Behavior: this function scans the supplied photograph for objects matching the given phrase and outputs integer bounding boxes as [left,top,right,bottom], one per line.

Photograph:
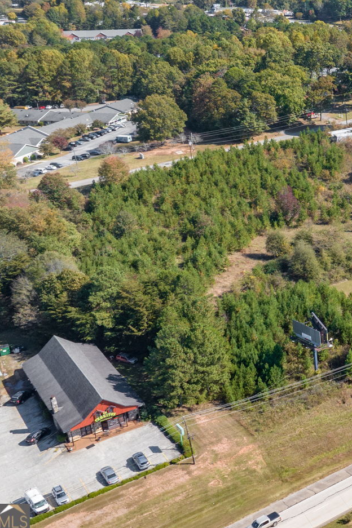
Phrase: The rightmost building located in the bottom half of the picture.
[19,335,157,460]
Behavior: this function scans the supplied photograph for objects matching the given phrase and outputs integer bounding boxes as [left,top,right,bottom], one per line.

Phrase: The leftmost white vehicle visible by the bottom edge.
[23,482,49,511]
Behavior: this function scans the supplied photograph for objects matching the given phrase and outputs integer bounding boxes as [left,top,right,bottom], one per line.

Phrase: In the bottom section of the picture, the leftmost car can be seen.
[7,386,35,403]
